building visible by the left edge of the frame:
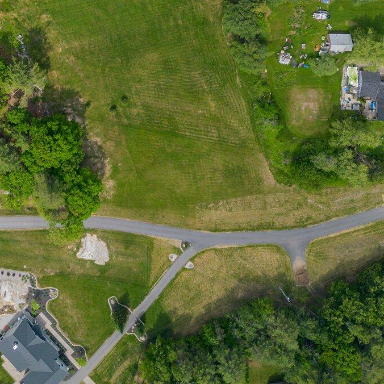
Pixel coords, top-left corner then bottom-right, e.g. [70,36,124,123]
[0,309,75,384]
